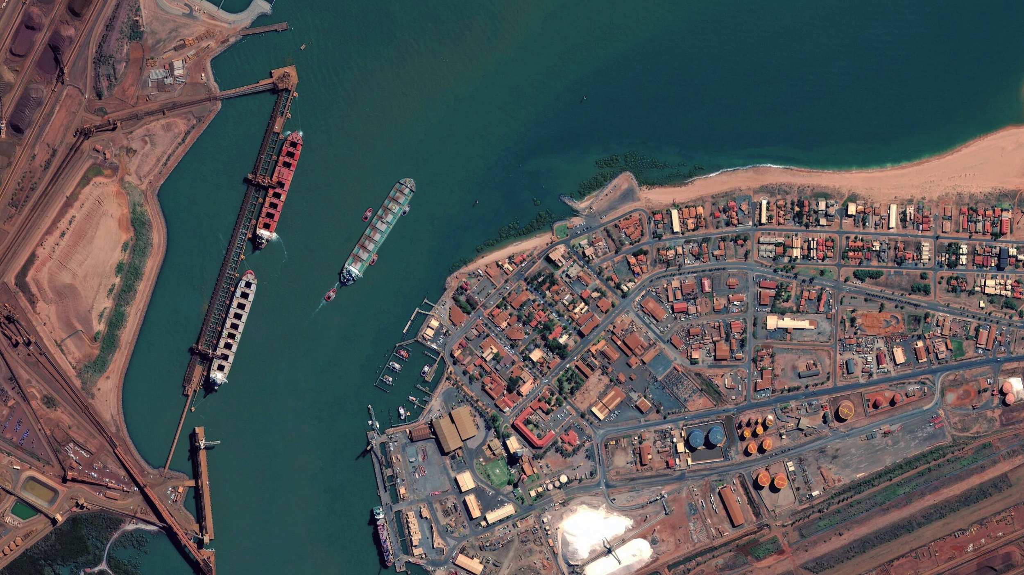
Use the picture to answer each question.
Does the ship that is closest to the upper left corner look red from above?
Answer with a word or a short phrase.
Yes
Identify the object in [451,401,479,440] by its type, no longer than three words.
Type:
shed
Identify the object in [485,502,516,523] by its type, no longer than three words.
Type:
building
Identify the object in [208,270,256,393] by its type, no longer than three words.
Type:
ship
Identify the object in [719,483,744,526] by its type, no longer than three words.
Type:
building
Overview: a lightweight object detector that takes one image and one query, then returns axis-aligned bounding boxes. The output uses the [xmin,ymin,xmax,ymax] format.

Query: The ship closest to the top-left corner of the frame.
[252,130,303,252]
